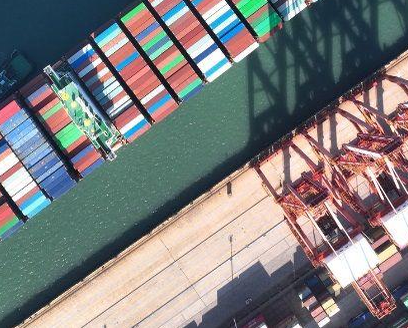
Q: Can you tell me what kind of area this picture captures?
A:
port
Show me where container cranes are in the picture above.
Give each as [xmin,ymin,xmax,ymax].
[341,68,408,168]
[293,100,408,247]
[246,133,400,320]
